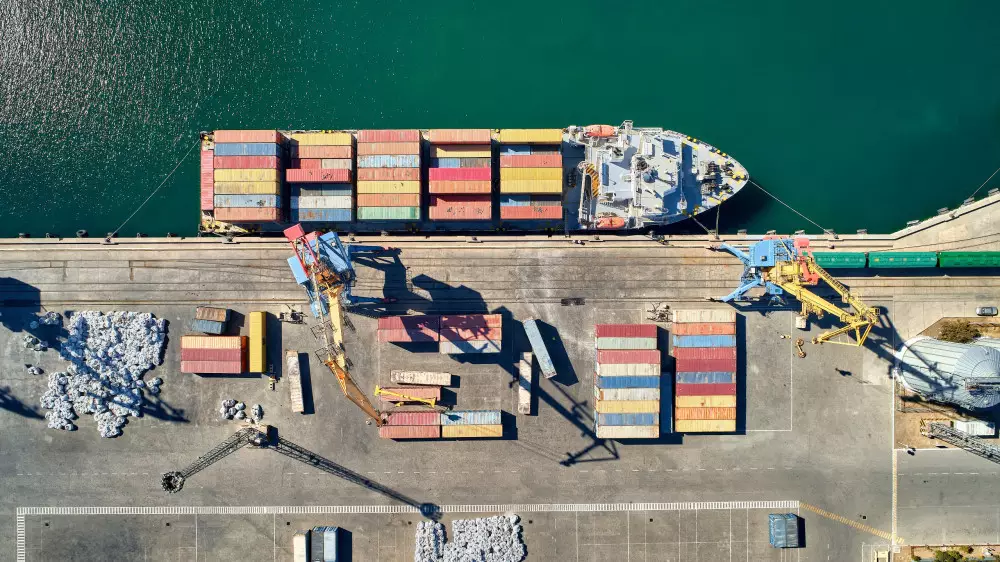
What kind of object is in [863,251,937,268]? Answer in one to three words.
rail car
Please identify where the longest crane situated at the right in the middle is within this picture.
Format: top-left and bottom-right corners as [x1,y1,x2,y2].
[706,233,897,355]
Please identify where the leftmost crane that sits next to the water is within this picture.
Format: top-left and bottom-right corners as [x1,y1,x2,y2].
[284,221,405,429]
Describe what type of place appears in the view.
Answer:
port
